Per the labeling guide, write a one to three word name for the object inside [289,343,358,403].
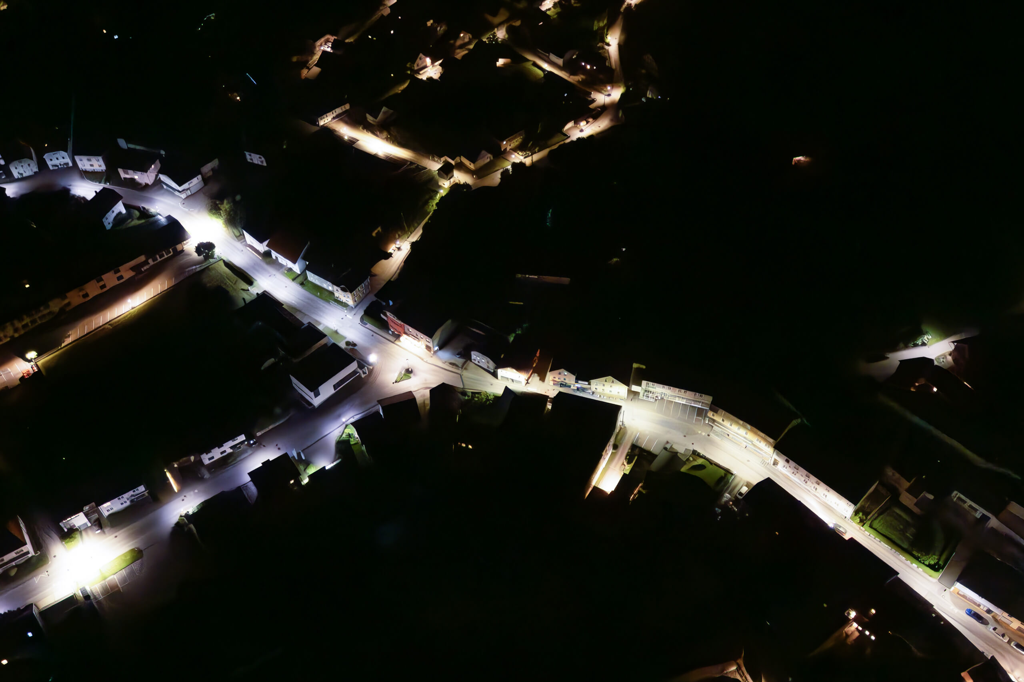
building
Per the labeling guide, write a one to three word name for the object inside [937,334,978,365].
shed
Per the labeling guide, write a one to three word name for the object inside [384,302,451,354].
building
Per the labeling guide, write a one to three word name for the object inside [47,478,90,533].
house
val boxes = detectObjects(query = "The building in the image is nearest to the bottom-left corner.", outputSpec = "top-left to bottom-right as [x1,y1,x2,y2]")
[0,617,52,678]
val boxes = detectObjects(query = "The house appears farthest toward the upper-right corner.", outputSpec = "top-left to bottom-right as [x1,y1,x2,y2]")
[772,138,814,167]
